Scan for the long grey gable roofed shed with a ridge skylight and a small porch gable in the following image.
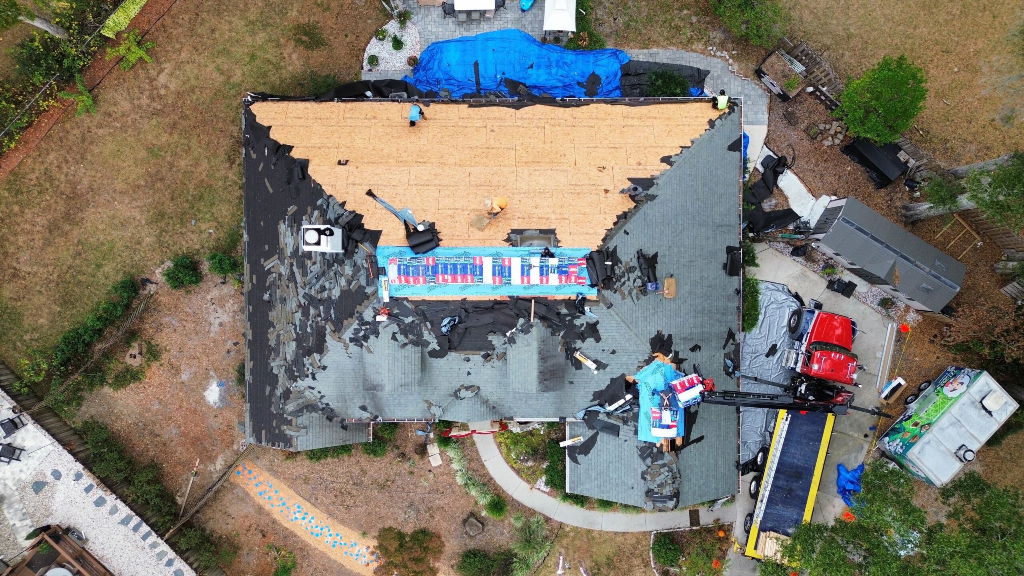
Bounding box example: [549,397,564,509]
[808,195,966,313]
